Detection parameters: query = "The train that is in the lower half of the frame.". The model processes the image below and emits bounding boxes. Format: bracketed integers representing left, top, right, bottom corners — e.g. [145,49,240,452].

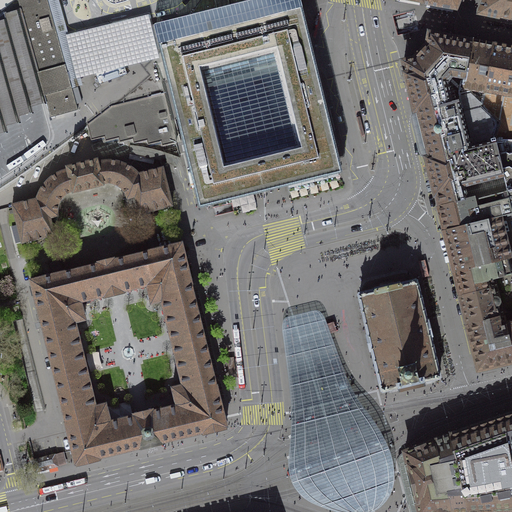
[232,323,245,390]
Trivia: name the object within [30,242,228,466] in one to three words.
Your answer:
building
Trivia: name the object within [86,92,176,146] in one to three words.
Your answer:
building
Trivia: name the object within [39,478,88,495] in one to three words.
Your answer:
vehicle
